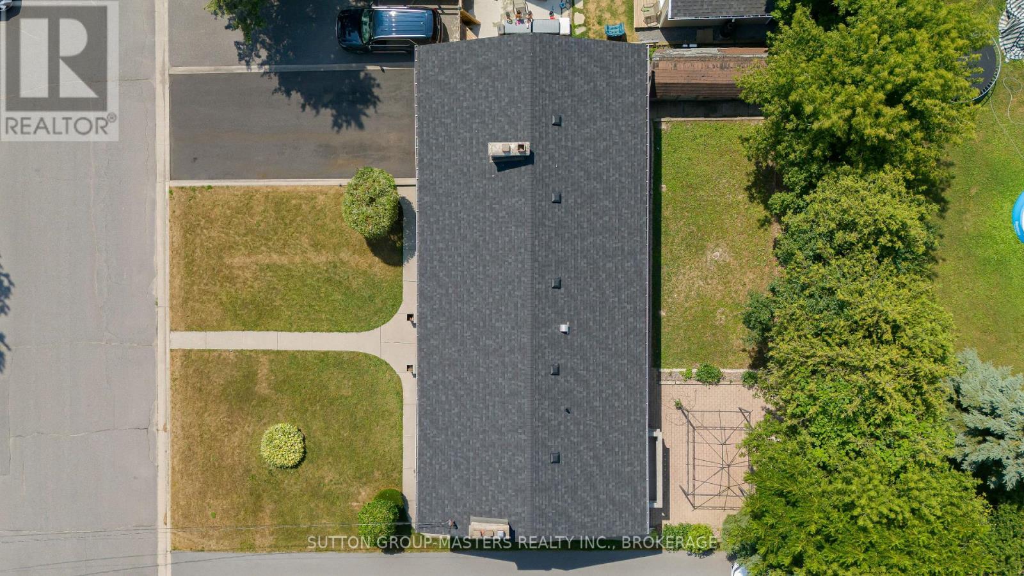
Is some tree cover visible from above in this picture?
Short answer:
Yes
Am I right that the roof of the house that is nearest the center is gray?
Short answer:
Yes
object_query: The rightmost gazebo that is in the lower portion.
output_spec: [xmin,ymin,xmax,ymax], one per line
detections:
[677,403,751,497]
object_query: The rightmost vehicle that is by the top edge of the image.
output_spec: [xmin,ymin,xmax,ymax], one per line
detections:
[336,2,442,57]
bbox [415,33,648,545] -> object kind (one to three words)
house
